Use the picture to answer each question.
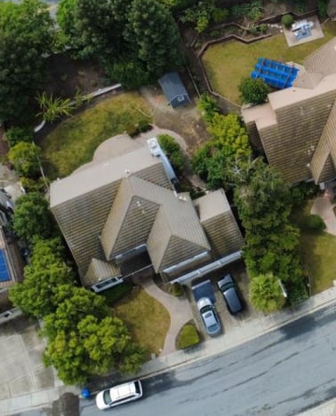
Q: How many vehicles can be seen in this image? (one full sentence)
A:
There are 3 vehicles in the image.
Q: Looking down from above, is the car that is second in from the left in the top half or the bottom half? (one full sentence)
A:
The car that is second in from the left is in the bottom half of the image.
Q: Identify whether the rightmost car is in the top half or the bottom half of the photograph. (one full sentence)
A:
The bottom half of the photo is where the rightmost car is.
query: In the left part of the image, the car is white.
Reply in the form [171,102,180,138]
[95,381,144,410]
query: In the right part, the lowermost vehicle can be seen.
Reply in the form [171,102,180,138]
[197,297,221,336]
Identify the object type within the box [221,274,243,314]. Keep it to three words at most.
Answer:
car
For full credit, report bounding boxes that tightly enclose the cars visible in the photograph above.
[95,381,144,410]
[197,297,221,336]
[221,274,243,314]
